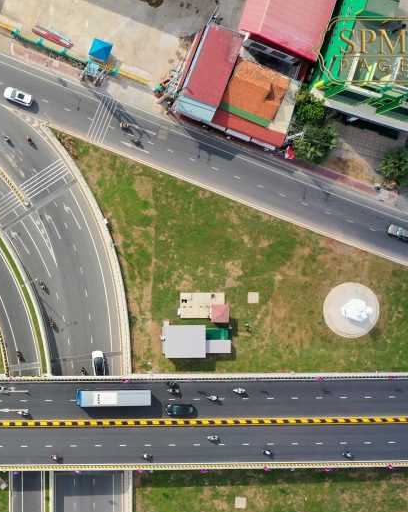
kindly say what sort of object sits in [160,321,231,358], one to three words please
shed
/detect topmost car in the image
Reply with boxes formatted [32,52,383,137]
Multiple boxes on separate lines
[4,88,34,107]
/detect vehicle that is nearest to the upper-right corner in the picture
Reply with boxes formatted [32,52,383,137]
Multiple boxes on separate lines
[383,224,408,243]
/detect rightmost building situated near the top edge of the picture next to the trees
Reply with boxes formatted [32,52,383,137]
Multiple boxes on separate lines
[306,0,408,141]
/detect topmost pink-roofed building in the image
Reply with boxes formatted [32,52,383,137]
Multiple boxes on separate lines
[238,0,339,65]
